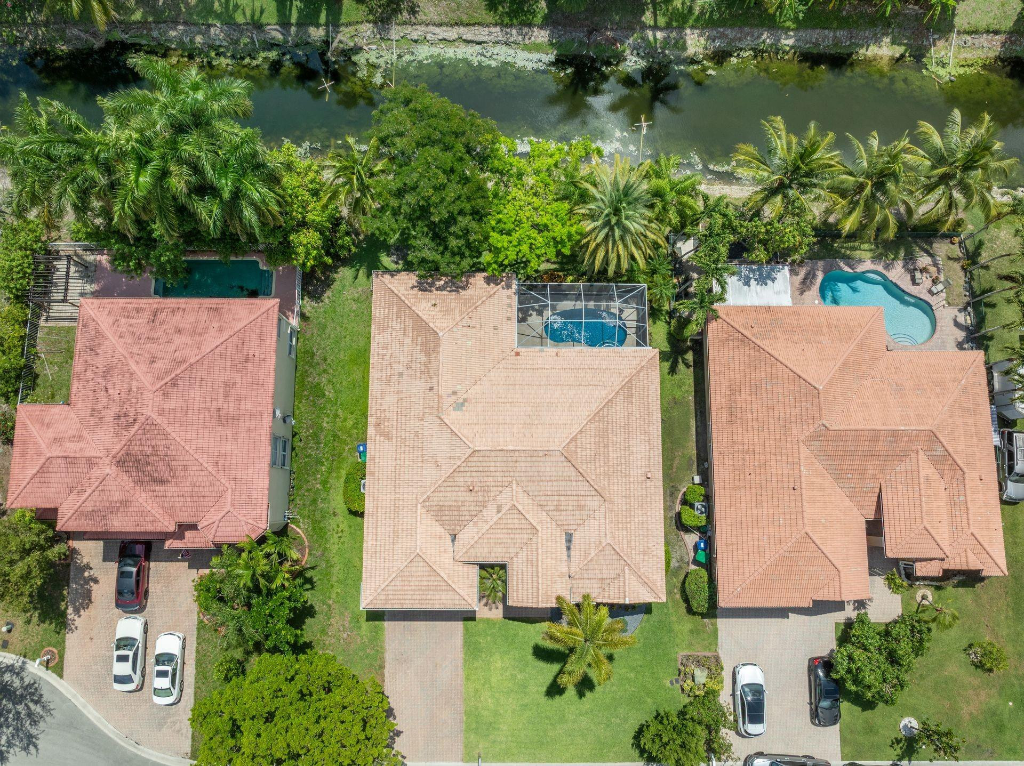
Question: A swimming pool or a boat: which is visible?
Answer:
swimming pool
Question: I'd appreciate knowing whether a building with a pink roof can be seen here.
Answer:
Yes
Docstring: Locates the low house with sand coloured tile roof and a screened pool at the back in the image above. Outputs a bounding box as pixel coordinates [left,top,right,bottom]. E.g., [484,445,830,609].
[360,270,668,612]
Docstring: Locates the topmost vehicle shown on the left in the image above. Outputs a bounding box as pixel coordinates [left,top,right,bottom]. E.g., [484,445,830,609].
[113,540,153,614]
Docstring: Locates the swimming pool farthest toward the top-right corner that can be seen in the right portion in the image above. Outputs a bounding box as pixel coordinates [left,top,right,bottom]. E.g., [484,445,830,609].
[817,266,939,348]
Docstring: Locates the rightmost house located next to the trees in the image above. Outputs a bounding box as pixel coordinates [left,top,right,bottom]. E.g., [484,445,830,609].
[706,305,1010,609]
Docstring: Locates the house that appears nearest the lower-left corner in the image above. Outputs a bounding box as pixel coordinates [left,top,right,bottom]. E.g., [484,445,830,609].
[4,296,297,549]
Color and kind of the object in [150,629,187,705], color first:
white car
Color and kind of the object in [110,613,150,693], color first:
white car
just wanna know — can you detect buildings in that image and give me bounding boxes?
[706,305,1010,609]
[360,270,668,612]
[4,296,297,549]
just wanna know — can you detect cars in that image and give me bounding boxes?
[996,428,1024,502]
[110,613,150,693]
[741,750,828,766]
[804,652,846,729]
[150,629,187,705]
[729,660,768,741]
[113,540,153,614]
